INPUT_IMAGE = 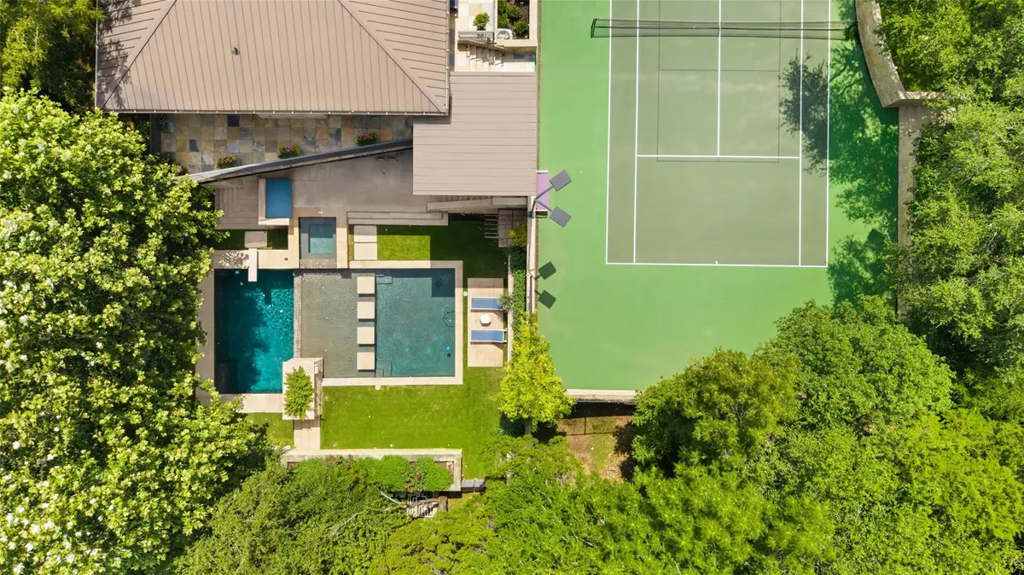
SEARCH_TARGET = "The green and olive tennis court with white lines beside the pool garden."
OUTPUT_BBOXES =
[540,0,899,390]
